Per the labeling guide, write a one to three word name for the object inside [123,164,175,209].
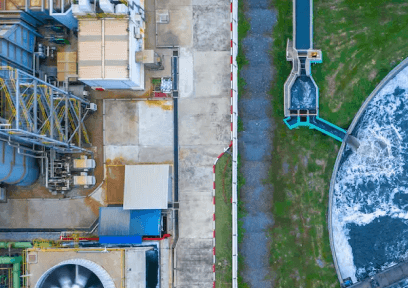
shed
